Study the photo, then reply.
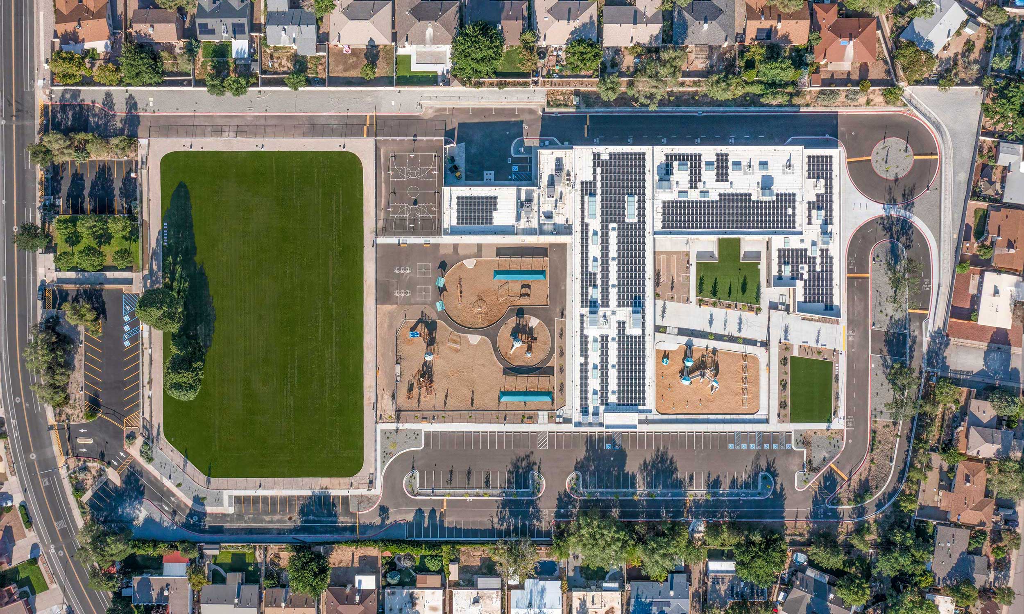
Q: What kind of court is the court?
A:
basketball court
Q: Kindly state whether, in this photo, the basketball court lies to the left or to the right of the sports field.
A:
on its right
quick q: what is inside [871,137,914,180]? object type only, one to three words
roundabout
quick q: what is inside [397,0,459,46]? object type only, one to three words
house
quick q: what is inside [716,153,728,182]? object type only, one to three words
solar array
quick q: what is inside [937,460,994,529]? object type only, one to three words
house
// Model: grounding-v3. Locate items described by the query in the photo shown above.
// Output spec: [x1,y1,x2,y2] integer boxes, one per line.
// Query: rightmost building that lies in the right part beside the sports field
[442,146,841,435]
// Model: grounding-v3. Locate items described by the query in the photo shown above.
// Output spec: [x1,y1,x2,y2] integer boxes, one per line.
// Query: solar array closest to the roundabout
[807,155,831,227]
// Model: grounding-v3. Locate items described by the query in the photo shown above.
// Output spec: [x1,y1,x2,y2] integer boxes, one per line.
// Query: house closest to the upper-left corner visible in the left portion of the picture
[52,0,115,45]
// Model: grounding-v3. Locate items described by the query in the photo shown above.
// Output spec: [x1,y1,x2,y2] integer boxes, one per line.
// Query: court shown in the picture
[376,139,443,236]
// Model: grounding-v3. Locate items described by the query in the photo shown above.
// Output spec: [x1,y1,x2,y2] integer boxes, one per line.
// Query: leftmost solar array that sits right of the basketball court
[457,197,496,225]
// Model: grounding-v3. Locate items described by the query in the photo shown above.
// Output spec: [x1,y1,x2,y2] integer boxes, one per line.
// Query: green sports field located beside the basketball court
[160,151,364,478]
